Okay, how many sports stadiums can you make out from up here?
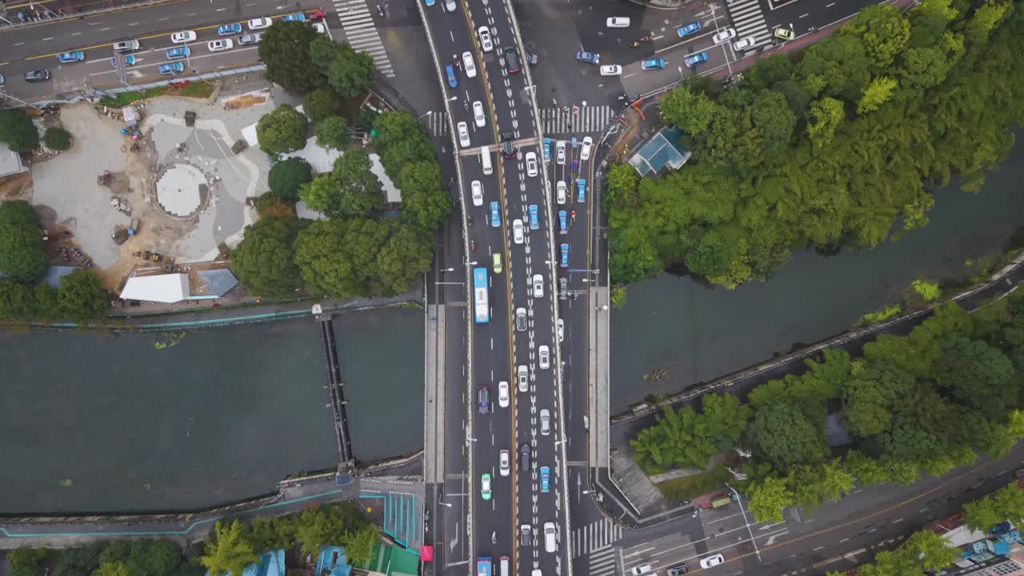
0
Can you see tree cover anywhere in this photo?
Yes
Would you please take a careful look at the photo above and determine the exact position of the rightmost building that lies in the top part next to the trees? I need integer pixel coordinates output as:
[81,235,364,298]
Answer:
[628,126,690,177]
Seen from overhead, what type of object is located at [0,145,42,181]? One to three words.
building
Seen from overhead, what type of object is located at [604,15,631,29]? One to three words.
vehicle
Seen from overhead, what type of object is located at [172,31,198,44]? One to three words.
vehicle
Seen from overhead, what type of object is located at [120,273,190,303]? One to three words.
shed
